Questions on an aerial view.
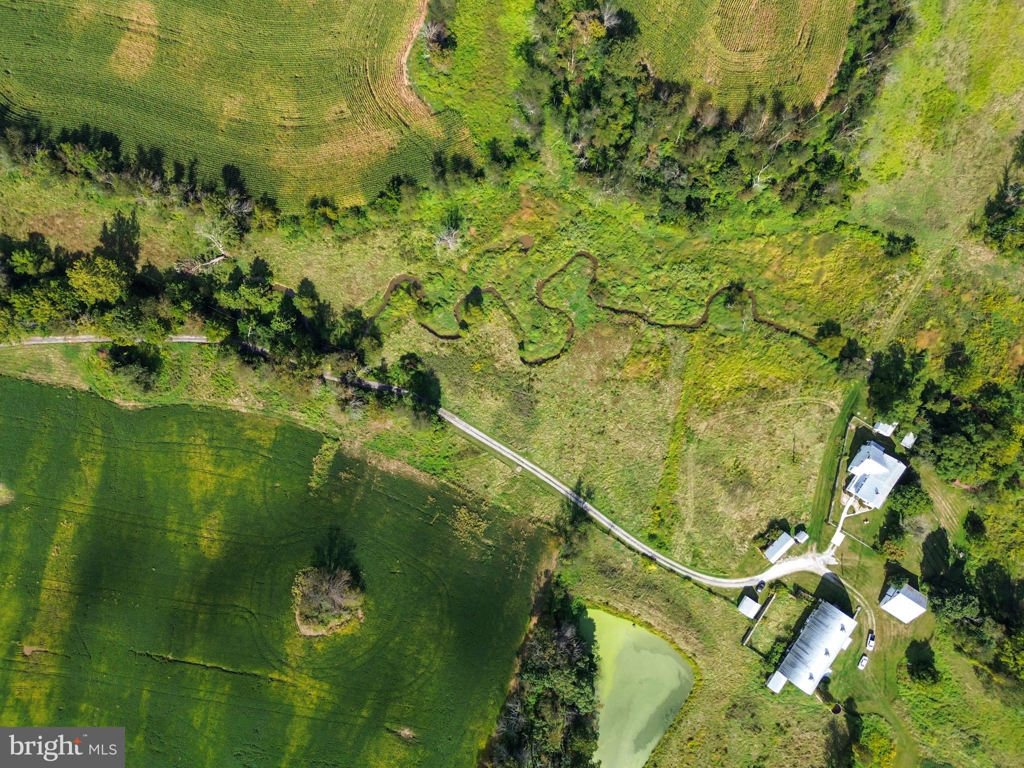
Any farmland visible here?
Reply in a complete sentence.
Yes, farmland shows up in the scene.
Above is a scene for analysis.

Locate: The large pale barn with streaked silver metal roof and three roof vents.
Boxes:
[766,597,857,693]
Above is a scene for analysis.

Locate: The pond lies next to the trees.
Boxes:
[575,606,695,768]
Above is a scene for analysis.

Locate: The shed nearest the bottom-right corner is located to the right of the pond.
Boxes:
[877,579,928,623]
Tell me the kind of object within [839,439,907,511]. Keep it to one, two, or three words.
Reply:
house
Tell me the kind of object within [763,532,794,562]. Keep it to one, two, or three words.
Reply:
shed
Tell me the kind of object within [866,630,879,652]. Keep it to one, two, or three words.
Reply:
vehicle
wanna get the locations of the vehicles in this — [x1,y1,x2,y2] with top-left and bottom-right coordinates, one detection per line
[756,580,765,593]
[857,654,870,673]
[866,630,879,652]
